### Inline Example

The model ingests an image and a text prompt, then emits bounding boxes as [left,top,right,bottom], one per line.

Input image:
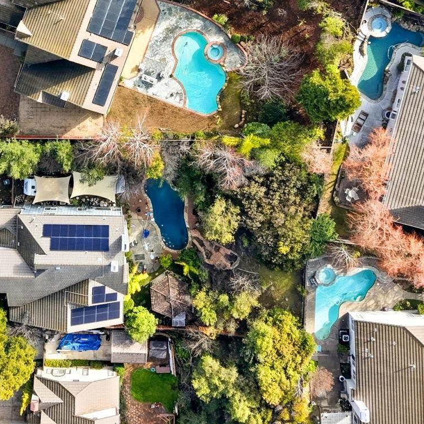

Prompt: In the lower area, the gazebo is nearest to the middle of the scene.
[153,277,191,323]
